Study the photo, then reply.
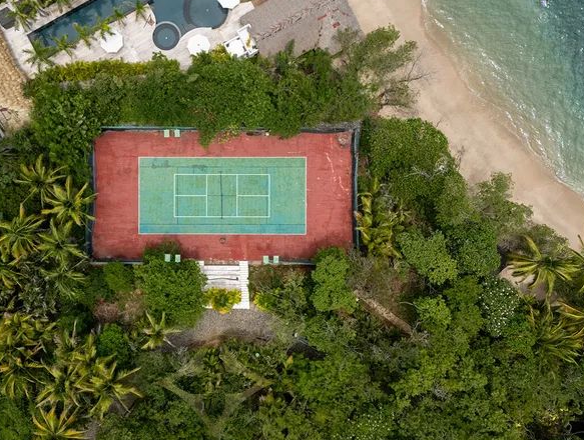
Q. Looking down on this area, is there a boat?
No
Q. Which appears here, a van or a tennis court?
tennis court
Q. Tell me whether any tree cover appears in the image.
Yes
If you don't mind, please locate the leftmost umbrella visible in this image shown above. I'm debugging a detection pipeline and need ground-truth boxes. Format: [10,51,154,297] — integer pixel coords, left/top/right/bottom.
[101,32,123,54]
